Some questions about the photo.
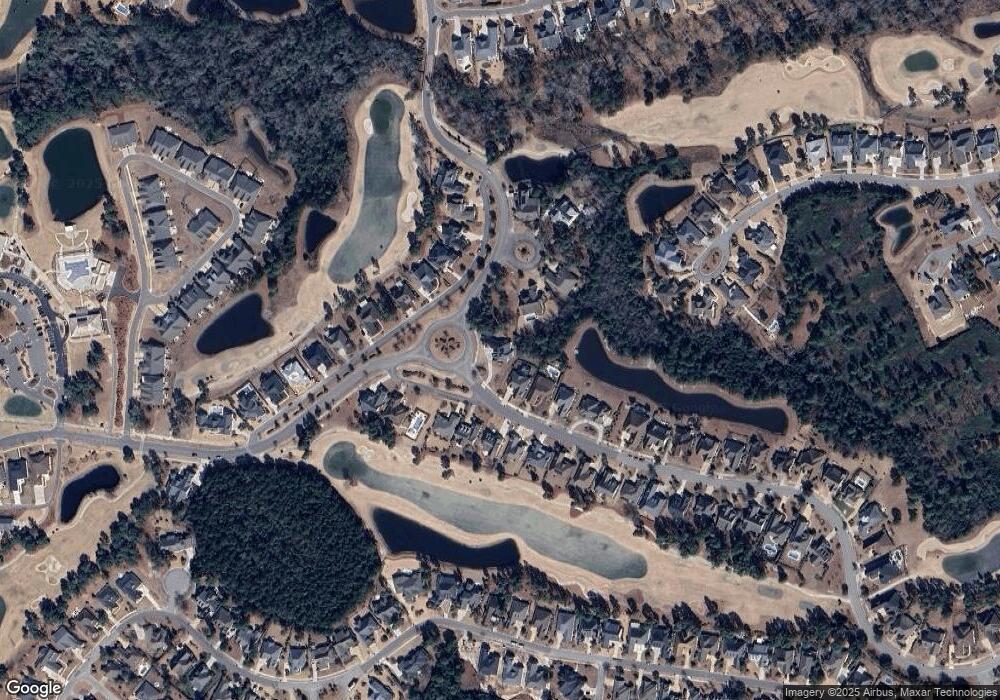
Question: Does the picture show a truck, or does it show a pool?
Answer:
pool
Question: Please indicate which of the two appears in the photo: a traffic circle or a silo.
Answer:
traffic circle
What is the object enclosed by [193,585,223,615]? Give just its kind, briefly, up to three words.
house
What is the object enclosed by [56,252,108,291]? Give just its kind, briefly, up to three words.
swimming pool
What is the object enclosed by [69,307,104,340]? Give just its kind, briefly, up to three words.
building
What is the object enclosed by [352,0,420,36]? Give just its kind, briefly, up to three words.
pond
